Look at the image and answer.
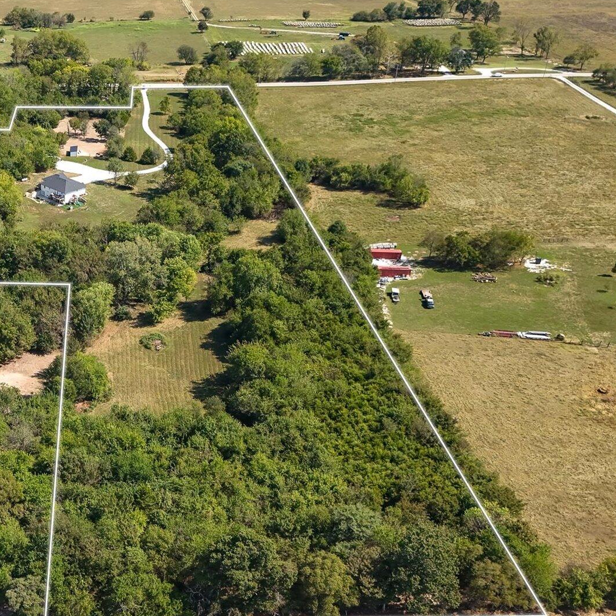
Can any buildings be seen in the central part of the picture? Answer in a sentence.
No, in the central part of the picture there is no building.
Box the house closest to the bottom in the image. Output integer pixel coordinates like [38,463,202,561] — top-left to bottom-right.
[37,176,90,207]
